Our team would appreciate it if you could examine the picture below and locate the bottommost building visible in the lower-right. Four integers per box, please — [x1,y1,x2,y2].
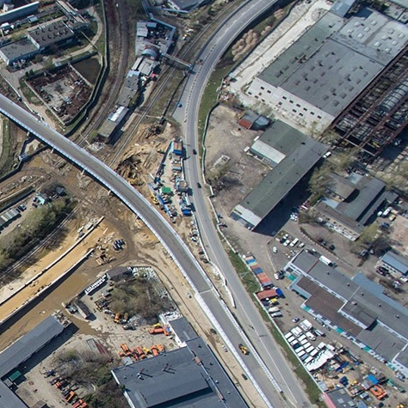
[319,388,358,408]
